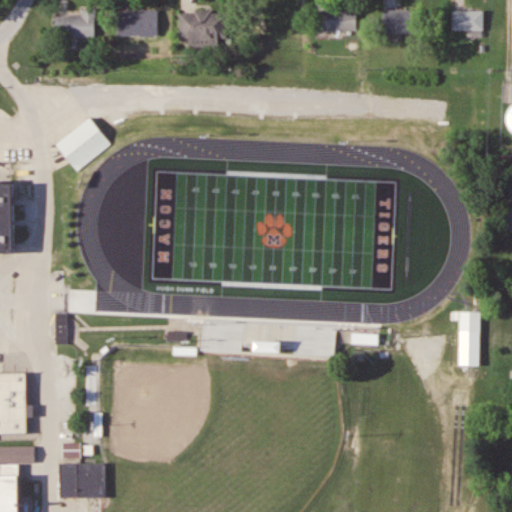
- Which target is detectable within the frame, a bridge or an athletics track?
athletics track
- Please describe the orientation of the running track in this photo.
from left to right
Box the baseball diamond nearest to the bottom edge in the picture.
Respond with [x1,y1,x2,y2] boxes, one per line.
[110,361,212,464]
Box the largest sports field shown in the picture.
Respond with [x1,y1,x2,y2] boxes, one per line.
[142,160,449,302]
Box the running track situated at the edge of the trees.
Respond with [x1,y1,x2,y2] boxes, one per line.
[79,138,470,322]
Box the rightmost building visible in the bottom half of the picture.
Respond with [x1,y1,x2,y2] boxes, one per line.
[450,310,481,372]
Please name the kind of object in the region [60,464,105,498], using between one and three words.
building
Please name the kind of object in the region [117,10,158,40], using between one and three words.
house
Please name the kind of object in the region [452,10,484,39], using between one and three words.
house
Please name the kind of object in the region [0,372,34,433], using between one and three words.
building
